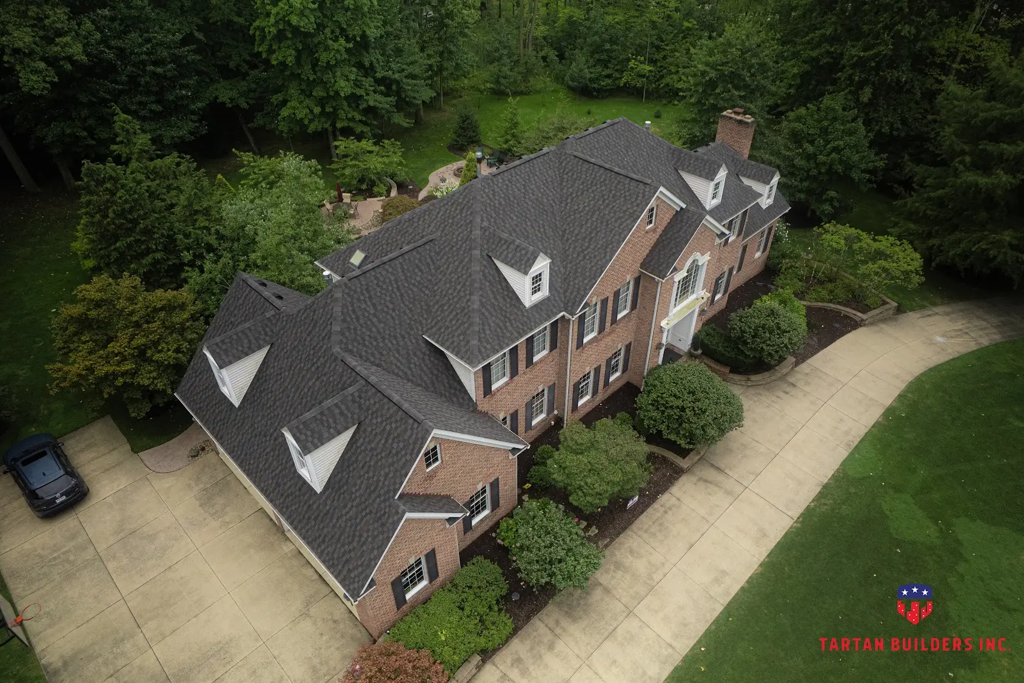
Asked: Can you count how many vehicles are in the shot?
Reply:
1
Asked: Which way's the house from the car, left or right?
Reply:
to the right of it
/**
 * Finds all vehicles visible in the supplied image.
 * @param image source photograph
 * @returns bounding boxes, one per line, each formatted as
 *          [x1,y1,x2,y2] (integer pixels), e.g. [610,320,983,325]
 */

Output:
[2,429,90,517]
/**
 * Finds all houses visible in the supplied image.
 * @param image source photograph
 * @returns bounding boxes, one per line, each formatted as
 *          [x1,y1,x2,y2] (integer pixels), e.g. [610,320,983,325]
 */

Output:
[173,105,791,639]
